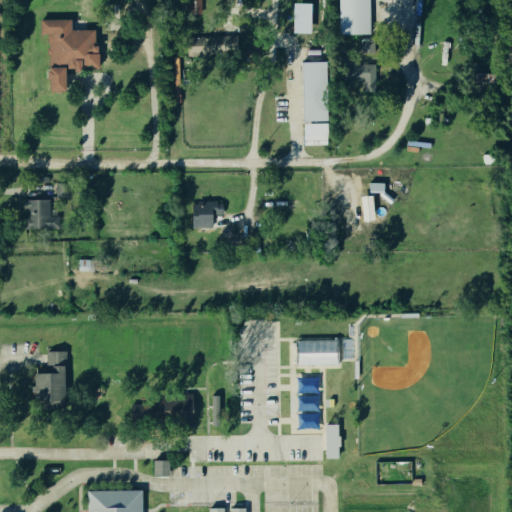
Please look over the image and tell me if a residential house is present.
Yes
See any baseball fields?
Yes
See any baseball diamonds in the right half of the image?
Yes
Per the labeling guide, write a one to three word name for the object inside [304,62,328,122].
building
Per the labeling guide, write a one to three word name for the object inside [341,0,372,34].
building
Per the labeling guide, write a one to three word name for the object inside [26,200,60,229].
house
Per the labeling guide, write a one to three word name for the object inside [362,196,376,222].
house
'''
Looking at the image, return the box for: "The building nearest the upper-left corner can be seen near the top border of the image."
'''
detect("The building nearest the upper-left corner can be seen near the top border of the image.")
[42,20,100,92]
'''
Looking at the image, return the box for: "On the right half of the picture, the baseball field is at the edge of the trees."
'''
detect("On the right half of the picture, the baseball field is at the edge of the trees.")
[360,317,496,455]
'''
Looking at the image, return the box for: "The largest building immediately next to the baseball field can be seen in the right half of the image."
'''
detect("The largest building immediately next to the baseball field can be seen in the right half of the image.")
[298,340,340,366]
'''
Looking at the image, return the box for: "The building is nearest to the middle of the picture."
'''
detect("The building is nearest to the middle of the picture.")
[193,202,224,228]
